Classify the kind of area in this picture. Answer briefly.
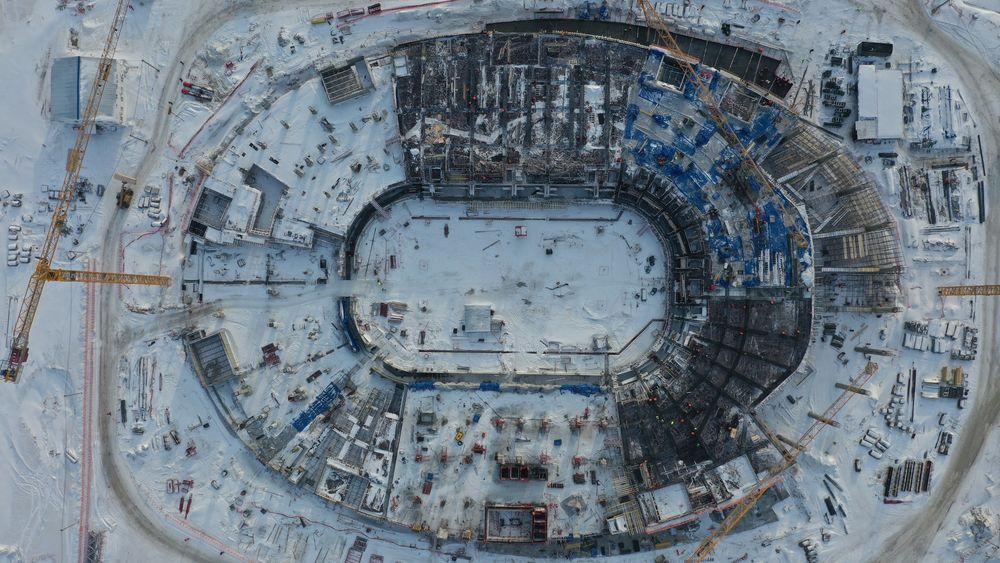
sports ground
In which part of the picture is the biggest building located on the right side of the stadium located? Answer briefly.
top right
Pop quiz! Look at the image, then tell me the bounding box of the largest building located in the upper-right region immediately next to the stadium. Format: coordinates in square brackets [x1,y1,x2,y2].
[849,64,903,143]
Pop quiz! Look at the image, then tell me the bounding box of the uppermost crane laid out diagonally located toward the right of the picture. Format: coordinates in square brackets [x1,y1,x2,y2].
[637,0,812,250]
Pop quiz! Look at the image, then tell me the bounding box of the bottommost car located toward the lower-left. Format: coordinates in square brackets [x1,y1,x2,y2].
[208,478,222,491]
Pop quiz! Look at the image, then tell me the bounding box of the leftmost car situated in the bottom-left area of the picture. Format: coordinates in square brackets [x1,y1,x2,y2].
[62,446,76,459]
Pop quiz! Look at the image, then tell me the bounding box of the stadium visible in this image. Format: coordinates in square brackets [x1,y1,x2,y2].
[179,33,823,560]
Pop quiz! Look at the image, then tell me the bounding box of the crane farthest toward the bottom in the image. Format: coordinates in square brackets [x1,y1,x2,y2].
[683,358,877,563]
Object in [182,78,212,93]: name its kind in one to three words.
vehicle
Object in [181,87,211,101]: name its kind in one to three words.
vehicle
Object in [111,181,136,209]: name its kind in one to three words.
work vehicle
